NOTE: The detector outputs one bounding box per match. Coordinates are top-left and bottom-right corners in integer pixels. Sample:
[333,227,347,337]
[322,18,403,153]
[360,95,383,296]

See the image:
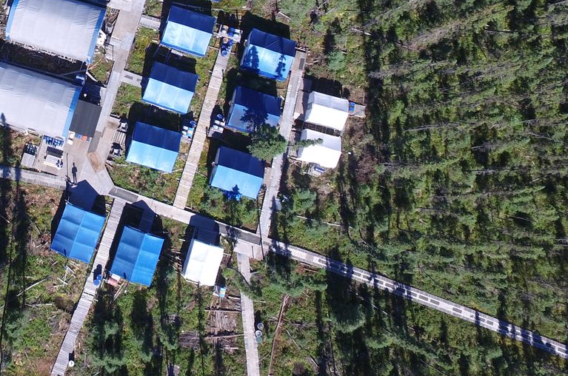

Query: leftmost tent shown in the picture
[51,202,104,265]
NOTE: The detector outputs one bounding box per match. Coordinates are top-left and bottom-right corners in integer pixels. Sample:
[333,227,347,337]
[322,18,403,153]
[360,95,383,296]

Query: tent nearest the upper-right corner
[303,91,349,132]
